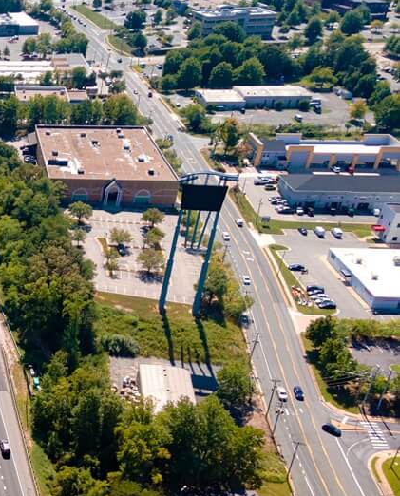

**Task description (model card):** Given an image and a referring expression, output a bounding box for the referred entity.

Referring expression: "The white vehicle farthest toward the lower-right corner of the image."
[276,387,289,400]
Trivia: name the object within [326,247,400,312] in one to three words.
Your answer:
building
